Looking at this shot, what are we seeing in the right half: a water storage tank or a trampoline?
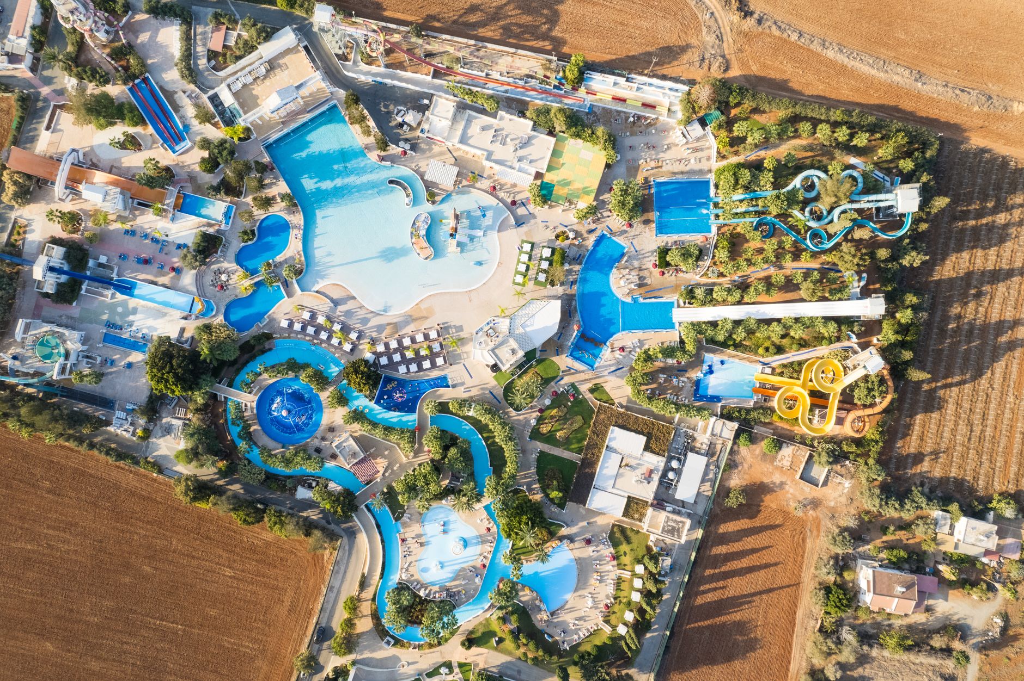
water storage tank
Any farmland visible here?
Yes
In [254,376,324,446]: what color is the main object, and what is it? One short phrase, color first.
blue swimming pool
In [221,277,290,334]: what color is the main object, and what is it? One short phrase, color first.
blue swimming pool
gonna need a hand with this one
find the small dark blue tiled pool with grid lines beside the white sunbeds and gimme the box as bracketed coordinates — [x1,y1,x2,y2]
[100,331,152,355]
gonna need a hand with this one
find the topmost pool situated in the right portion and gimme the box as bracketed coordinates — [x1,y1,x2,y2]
[650,175,715,240]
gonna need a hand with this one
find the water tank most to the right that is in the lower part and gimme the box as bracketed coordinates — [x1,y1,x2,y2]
[793,450,828,489]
